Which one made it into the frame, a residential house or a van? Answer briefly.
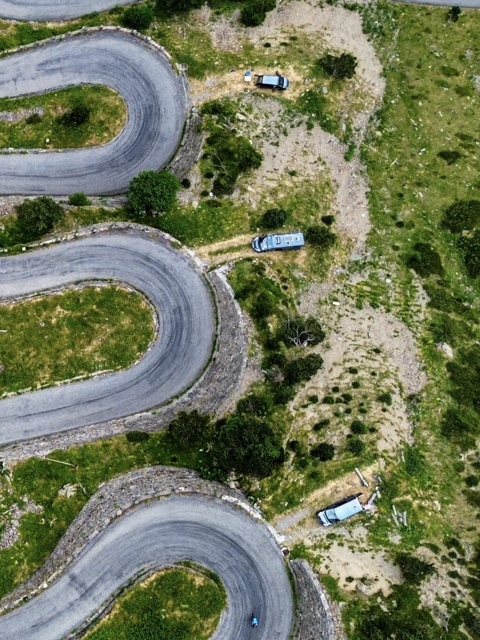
van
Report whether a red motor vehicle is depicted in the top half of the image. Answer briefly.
No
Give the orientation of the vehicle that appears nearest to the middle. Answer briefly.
horizontally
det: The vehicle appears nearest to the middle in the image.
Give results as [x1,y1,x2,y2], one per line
[249,233,308,253]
